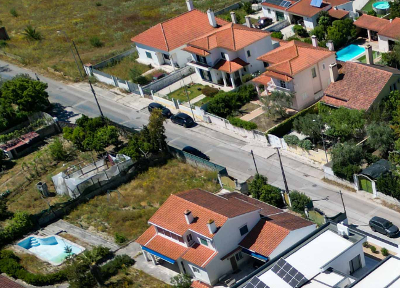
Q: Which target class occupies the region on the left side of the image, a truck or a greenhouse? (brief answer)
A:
greenhouse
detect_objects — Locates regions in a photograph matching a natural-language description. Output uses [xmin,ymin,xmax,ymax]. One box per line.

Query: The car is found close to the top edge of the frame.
[253,14,272,27]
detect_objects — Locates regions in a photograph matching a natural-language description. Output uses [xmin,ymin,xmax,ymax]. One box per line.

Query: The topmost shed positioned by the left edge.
[0,131,43,161]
